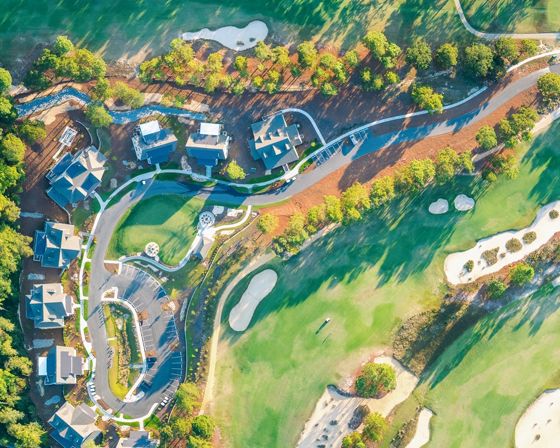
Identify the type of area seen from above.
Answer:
golf course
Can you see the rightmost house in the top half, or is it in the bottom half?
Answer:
top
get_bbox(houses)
[188,122,229,166]
[24,284,74,329]
[45,147,109,206]
[134,120,175,163]
[40,345,83,385]
[119,428,159,448]
[33,223,83,269]
[49,401,104,448]
[245,108,306,170]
